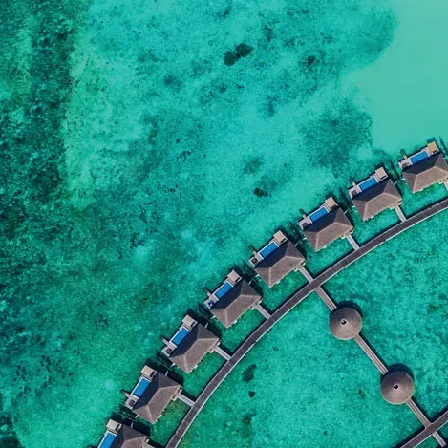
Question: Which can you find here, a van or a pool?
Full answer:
Of the two, only a pool appears.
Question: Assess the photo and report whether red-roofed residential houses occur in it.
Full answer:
No, there is no red-roofed residential house in the image.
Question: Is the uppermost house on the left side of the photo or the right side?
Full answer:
The uppermost house appears in the right half of the scene.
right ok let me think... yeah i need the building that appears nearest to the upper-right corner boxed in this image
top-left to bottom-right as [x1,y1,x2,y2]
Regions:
[399,143,448,193]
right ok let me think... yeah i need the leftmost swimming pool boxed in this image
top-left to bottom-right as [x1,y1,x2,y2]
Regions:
[100,430,120,448]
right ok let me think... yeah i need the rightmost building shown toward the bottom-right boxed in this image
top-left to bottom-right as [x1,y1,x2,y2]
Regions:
[382,370,414,403]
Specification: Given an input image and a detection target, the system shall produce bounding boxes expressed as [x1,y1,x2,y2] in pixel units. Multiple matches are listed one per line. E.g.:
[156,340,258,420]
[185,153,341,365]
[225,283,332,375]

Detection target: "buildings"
[108,418,150,448]
[205,271,265,328]
[347,169,405,221]
[250,232,309,288]
[164,316,223,374]
[124,365,185,424]
[399,143,448,193]
[299,198,357,252]
[382,370,414,403]
[329,307,362,339]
